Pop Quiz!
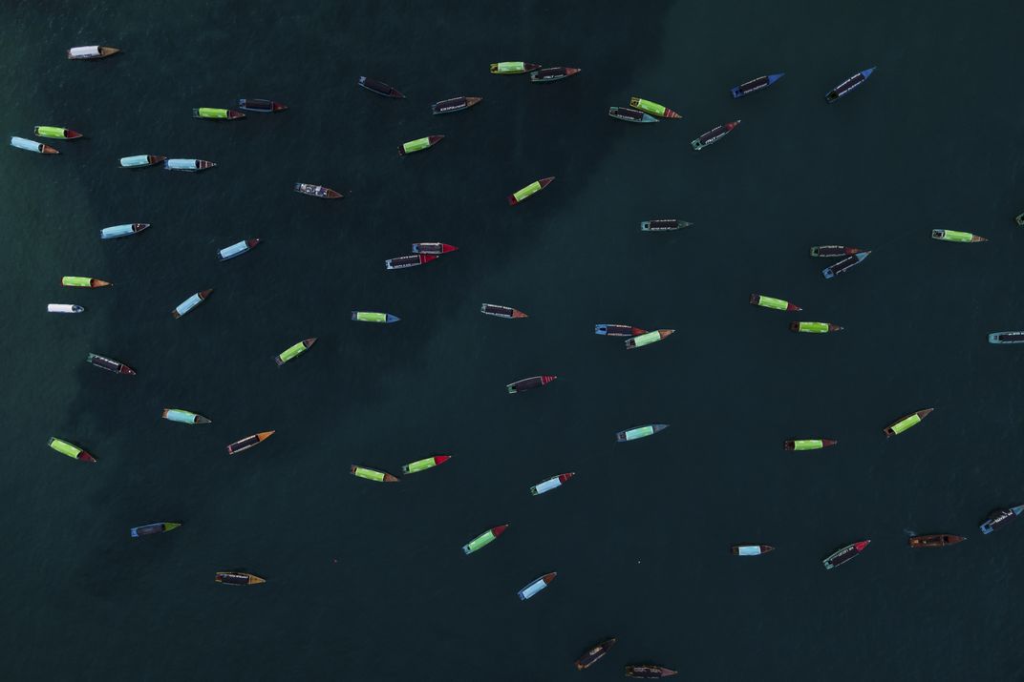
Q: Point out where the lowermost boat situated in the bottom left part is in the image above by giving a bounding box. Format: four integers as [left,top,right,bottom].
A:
[214,573,266,585]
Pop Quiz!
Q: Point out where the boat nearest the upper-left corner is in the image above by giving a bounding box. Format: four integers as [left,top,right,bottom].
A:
[66,46,121,58]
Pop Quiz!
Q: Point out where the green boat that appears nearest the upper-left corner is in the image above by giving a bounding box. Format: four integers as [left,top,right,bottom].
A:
[33,126,83,139]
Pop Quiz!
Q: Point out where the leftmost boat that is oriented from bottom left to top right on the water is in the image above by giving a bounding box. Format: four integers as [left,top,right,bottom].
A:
[171,289,214,320]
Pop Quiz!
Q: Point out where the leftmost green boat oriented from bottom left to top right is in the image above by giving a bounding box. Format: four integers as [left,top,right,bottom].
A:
[274,337,318,366]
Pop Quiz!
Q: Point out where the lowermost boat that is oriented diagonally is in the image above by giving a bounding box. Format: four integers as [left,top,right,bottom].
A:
[574,639,616,671]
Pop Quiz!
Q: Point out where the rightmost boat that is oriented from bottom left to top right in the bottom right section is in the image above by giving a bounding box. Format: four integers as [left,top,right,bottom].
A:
[980,503,1024,535]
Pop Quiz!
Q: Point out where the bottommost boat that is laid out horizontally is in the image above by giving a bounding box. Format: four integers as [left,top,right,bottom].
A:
[625,666,677,678]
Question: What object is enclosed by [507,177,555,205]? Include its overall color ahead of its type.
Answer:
green boat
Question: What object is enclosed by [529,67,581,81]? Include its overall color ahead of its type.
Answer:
black boat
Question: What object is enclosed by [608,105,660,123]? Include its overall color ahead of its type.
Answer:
black boat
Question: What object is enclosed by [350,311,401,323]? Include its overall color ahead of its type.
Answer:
green boat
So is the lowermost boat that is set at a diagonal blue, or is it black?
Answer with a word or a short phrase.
black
